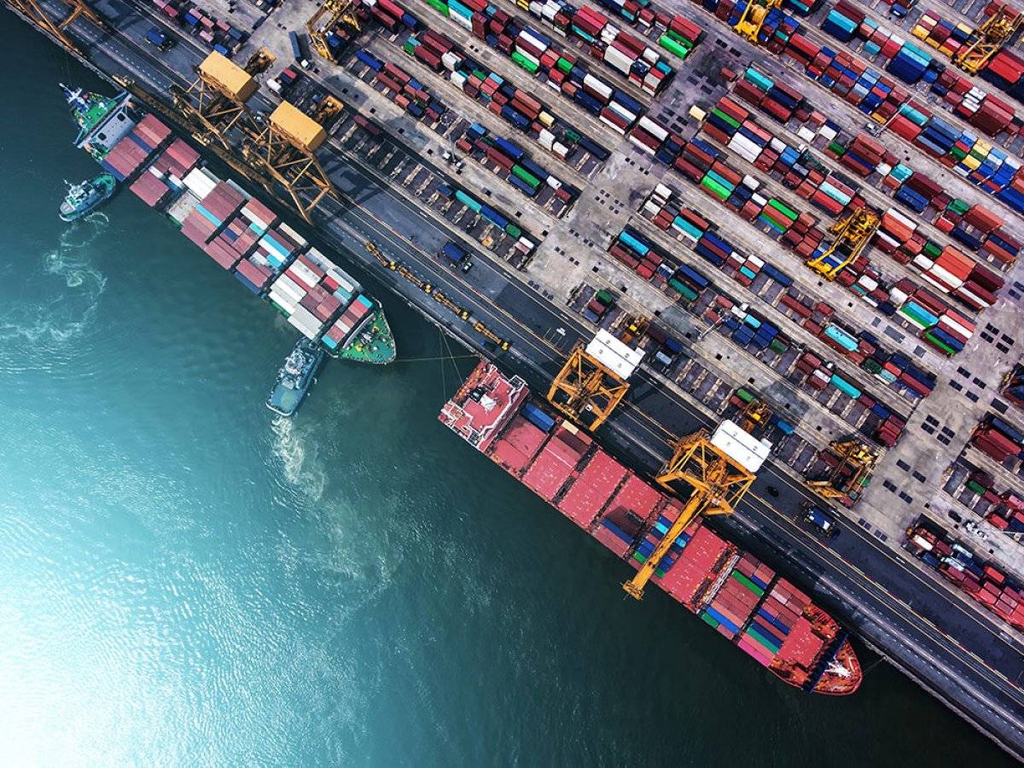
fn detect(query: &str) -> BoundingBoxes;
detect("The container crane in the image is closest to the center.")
[540,314,650,435]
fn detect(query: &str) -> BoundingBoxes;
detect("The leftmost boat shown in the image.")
[55,175,118,229]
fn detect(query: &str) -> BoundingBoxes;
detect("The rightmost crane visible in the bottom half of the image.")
[805,439,881,502]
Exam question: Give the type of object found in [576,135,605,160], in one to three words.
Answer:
shipping container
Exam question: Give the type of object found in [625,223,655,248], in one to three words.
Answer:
shipping container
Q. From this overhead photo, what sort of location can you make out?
port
